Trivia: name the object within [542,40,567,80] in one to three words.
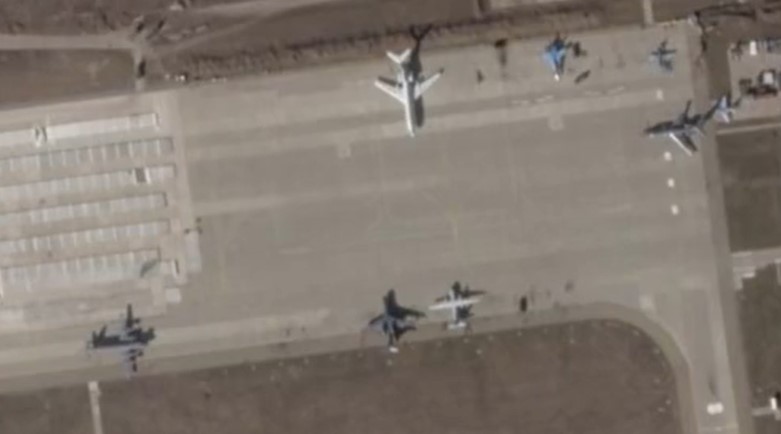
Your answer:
airplane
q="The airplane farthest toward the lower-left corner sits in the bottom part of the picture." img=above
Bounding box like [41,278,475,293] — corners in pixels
[92,314,149,381]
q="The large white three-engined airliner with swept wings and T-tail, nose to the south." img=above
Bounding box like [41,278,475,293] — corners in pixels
[373,50,437,136]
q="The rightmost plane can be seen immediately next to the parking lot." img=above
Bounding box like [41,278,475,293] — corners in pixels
[711,96,734,124]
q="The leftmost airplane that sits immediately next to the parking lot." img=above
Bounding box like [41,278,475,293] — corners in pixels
[643,101,706,153]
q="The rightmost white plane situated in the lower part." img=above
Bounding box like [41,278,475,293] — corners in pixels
[430,289,480,330]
